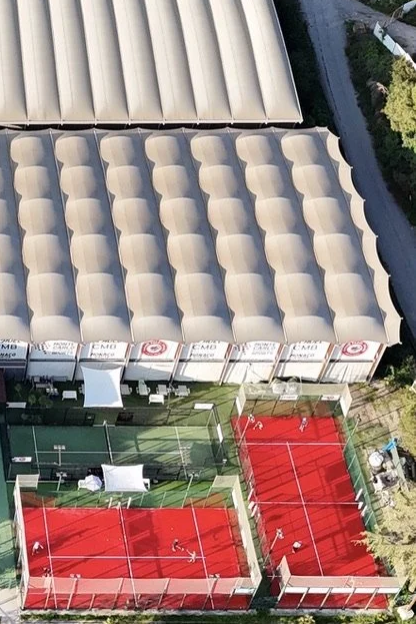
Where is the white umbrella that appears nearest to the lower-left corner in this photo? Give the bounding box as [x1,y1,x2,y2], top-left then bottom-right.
[76,470,103,496]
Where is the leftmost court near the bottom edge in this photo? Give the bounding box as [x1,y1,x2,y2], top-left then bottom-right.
[14,476,265,619]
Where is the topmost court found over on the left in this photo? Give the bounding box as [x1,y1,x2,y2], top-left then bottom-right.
[5,403,231,481]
